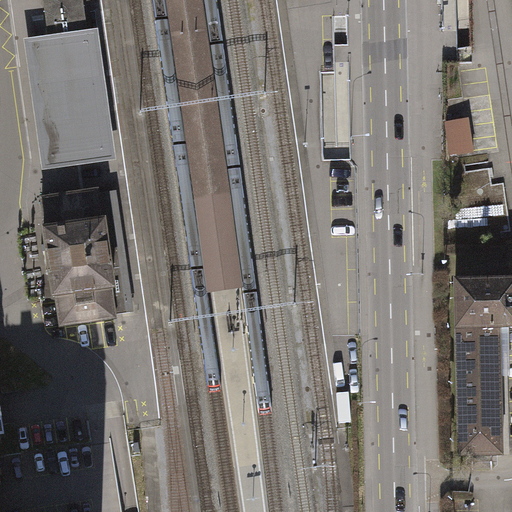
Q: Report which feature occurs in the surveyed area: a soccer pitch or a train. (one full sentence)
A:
Looking from above, you can make out a train.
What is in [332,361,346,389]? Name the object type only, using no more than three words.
vehicle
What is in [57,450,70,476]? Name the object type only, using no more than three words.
vehicle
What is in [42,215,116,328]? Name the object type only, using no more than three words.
house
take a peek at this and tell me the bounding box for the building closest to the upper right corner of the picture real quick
[445,118,474,156]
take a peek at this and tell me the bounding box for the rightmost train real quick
[204,0,272,417]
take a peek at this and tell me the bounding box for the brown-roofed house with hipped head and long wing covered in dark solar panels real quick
[454,274,512,456]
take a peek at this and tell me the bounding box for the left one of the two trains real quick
[152,0,220,395]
